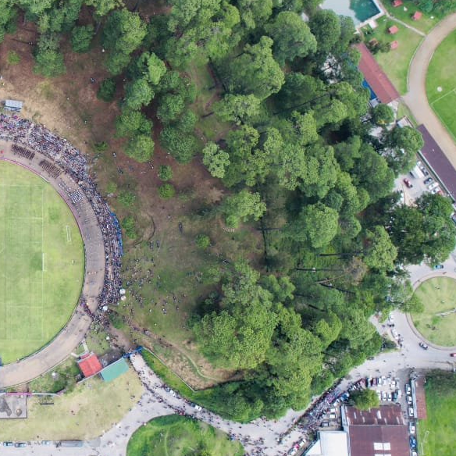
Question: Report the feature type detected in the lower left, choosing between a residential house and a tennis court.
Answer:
residential house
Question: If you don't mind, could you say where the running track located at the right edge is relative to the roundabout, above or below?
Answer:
above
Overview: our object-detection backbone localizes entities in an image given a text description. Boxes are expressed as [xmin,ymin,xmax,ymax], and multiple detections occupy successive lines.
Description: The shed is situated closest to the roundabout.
[410,376,427,417]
